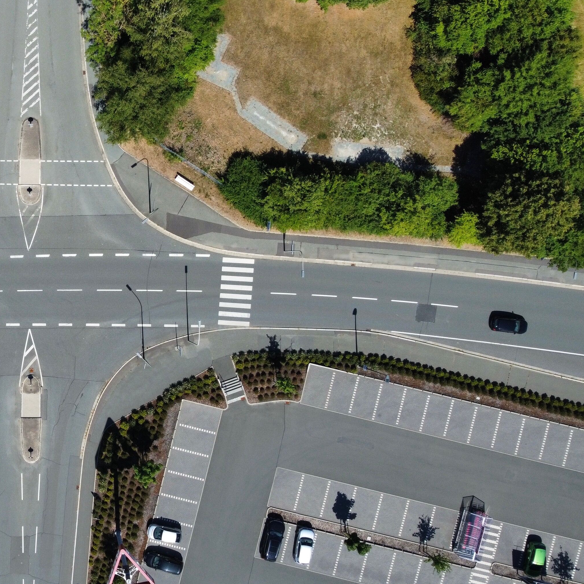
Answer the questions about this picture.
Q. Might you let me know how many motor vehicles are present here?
six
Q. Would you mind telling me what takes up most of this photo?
paved ground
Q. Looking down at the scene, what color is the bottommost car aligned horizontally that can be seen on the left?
black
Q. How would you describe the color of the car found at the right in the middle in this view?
black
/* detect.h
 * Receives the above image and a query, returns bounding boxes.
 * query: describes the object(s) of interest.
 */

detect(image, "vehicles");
[147,524,184,546]
[519,541,545,576]
[493,317,532,338]
[262,519,286,562]
[143,553,185,576]
[294,524,317,565]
